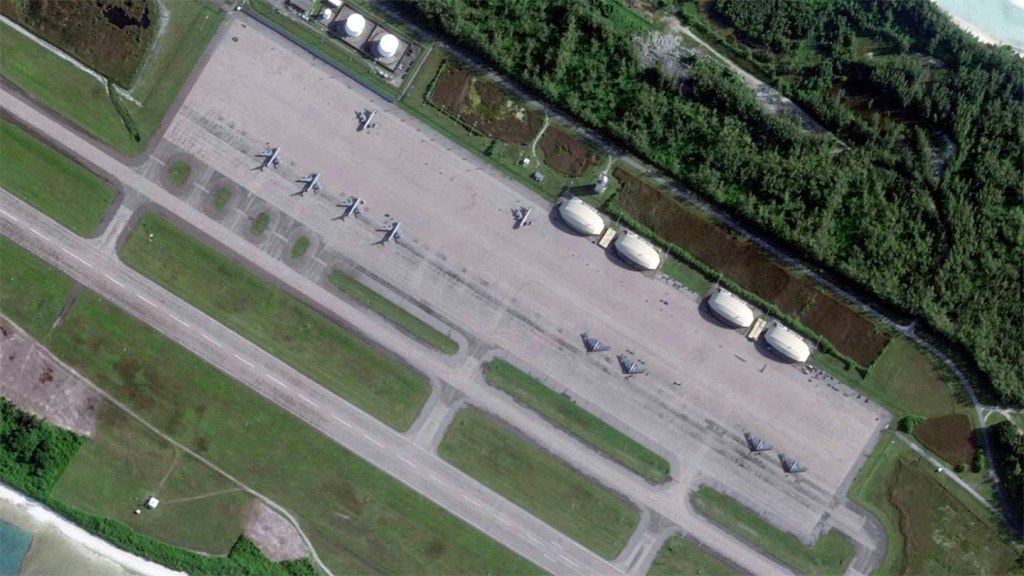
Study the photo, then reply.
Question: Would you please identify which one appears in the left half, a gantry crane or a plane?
plane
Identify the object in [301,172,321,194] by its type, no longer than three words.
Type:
airplane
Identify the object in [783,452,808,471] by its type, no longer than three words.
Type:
airplane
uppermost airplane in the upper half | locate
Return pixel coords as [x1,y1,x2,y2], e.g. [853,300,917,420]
[361,106,382,129]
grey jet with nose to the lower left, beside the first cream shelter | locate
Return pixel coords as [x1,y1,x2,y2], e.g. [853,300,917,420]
[518,204,538,226]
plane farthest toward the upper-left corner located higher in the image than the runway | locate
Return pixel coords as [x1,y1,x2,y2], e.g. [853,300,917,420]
[261,147,281,170]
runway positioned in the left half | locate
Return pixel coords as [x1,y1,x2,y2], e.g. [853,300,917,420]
[0,188,627,576]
